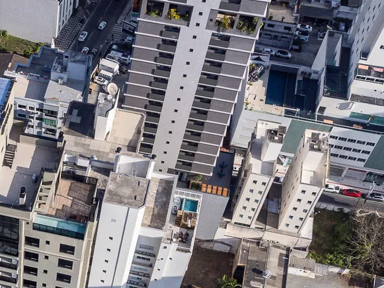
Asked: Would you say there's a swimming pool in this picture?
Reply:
Yes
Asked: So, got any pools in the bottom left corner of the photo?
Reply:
Yes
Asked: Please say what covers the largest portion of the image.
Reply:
buildings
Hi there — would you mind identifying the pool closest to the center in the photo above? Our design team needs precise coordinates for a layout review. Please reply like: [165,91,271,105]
[184,192,202,211]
